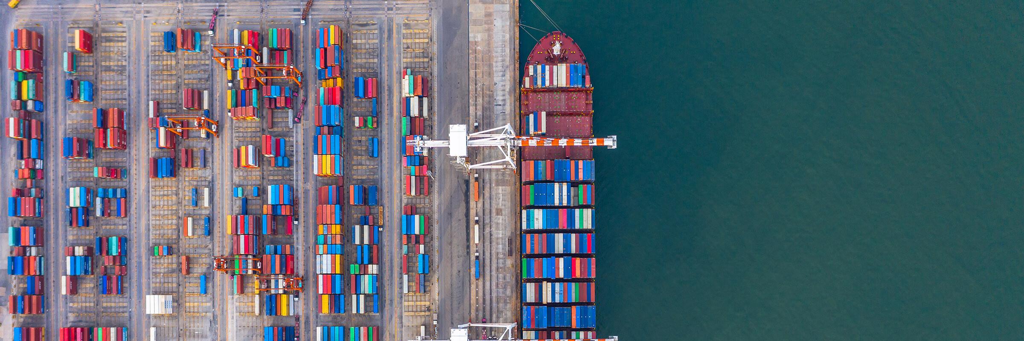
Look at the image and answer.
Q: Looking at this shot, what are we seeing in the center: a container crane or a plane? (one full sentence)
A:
You can see a container crane in the center.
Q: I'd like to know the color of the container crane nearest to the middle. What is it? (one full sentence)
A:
The container crane nearest to the middle looks white in the image.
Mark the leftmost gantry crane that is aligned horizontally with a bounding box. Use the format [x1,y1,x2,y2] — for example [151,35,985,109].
[166,115,218,137]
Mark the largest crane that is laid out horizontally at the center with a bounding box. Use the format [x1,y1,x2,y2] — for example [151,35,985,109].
[406,124,616,176]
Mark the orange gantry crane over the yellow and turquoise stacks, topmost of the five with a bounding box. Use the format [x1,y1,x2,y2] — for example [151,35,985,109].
[212,43,262,68]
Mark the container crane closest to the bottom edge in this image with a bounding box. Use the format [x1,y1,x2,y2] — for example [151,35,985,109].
[416,314,617,341]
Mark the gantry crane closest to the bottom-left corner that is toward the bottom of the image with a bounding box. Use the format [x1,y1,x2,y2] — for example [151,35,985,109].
[212,254,262,274]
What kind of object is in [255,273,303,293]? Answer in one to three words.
container crane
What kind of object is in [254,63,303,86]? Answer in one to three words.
container crane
